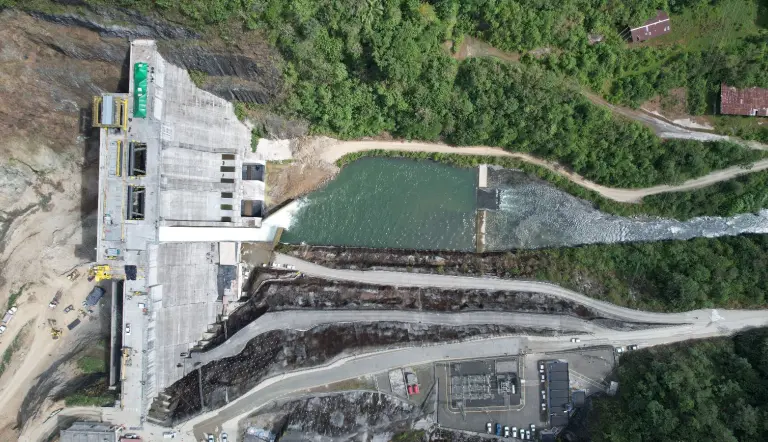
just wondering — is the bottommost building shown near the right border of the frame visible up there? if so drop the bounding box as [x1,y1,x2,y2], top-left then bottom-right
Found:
[715,85,768,119]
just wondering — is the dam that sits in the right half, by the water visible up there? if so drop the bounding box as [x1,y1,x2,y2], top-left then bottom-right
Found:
[476,164,498,254]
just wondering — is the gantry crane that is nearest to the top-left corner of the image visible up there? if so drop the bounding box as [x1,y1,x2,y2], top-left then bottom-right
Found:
[92,94,134,134]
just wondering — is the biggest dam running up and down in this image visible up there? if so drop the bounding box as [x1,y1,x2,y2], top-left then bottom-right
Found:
[96,41,268,430]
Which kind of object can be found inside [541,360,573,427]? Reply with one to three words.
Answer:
building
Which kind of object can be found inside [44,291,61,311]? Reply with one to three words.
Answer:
vehicle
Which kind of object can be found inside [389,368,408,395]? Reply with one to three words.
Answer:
shed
